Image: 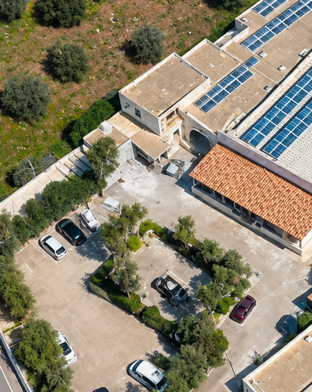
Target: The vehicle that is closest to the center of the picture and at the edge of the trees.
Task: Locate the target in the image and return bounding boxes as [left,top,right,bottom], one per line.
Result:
[92,188,127,215]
